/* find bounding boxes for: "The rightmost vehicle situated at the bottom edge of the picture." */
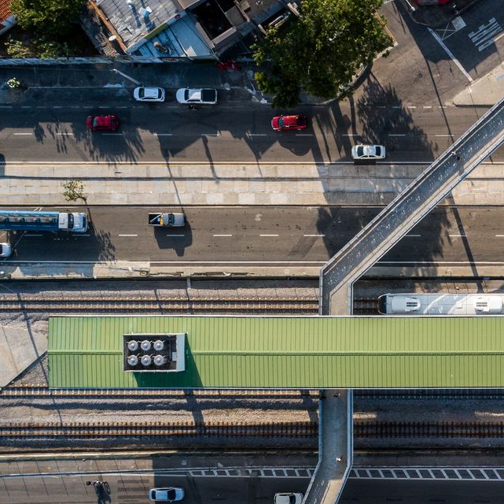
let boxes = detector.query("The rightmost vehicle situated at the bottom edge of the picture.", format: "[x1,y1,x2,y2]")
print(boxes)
[273,490,304,504]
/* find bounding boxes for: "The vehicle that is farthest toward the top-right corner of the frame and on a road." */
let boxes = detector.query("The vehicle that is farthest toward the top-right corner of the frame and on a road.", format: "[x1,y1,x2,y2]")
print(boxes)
[352,143,386,160]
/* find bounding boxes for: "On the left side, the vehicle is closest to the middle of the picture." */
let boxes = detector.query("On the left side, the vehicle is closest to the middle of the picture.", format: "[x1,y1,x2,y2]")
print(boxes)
[149,211,187,227]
